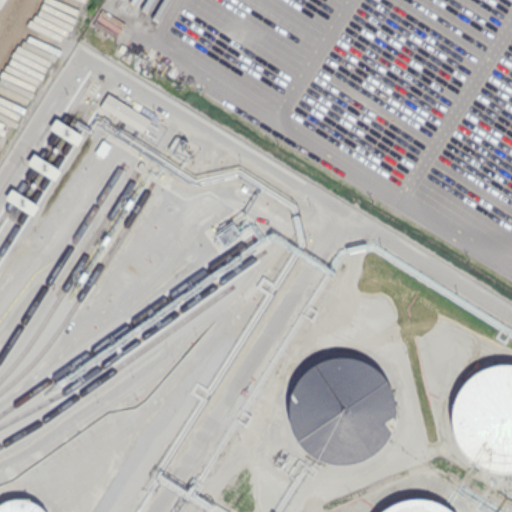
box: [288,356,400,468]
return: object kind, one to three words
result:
storage tank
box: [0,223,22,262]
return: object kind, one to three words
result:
rail car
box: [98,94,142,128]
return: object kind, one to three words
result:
building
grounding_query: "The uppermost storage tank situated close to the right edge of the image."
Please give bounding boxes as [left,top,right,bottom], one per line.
[450,362,512,478]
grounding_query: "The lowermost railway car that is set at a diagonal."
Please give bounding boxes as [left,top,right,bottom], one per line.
[2,420,42,446]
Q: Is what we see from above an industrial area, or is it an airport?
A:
industrial area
